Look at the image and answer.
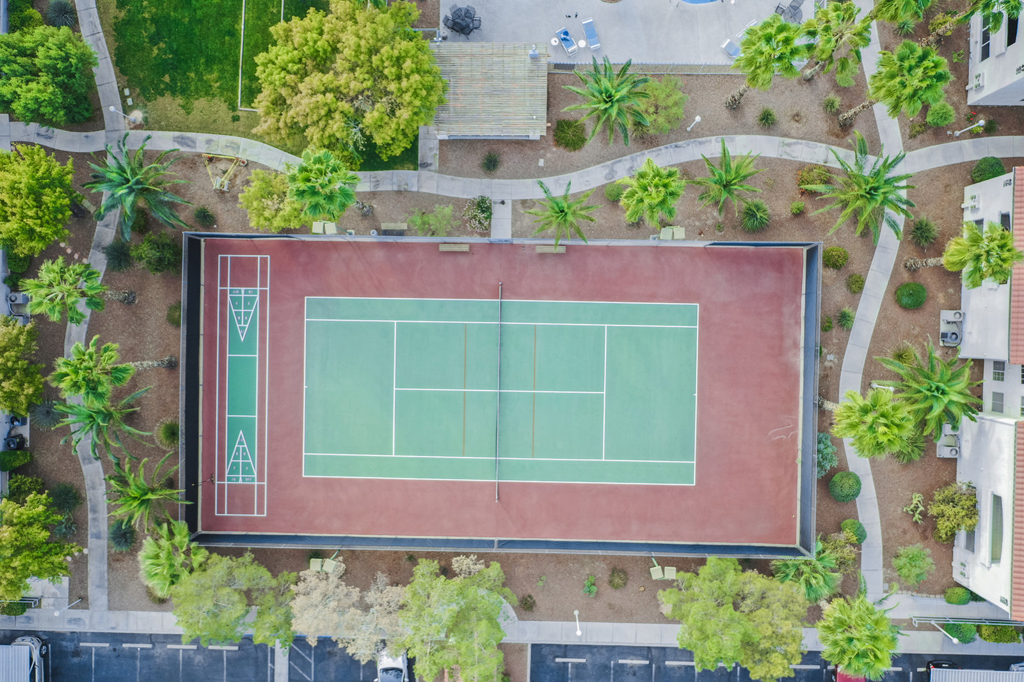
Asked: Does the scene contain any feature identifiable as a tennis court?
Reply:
Yes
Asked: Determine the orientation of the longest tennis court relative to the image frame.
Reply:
from left to right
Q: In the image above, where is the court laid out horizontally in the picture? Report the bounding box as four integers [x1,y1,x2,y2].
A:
[200,239,803,541]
